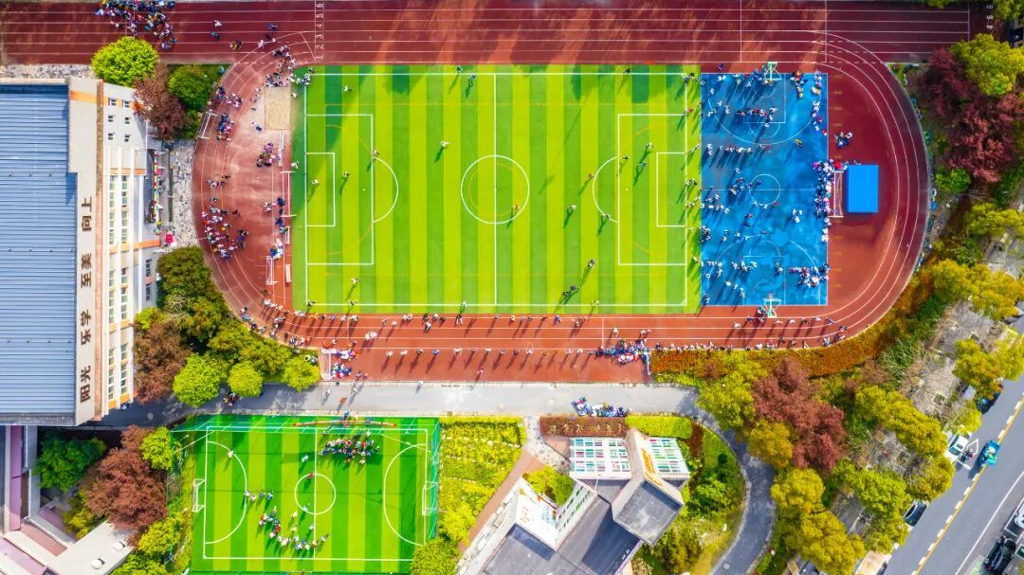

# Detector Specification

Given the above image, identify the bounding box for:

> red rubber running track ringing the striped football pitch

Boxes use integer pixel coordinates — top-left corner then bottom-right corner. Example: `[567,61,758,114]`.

[0,0,1008,382]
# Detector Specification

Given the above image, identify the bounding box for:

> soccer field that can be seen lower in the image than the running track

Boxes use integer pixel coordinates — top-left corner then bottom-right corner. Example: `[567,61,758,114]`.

[169,418,438,575]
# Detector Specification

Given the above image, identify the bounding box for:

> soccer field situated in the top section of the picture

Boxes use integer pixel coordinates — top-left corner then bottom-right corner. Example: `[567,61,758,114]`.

[292,64,701,314]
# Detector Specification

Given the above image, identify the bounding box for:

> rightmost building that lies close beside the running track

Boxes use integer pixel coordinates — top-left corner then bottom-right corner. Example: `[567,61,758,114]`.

[451,427,693,575]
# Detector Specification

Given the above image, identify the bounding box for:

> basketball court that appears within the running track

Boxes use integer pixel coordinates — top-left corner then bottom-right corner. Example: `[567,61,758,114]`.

[701,72,828,307]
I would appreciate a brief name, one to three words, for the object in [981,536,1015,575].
car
